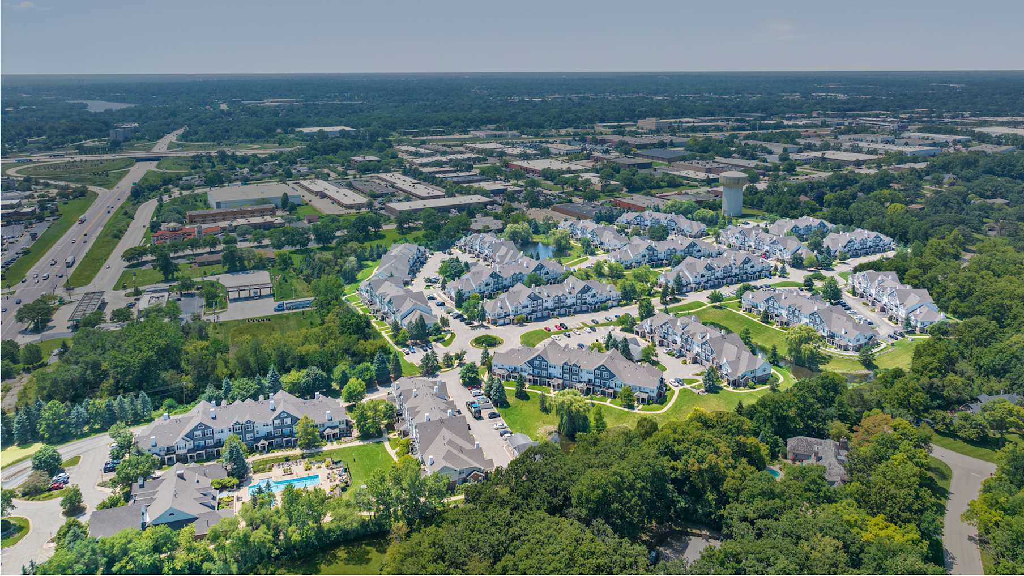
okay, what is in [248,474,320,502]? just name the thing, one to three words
swimming pool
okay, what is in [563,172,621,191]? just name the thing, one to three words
building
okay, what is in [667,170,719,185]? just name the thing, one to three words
building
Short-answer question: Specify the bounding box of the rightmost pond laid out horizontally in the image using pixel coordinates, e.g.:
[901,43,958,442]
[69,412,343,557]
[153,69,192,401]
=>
[753,350,881,390]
